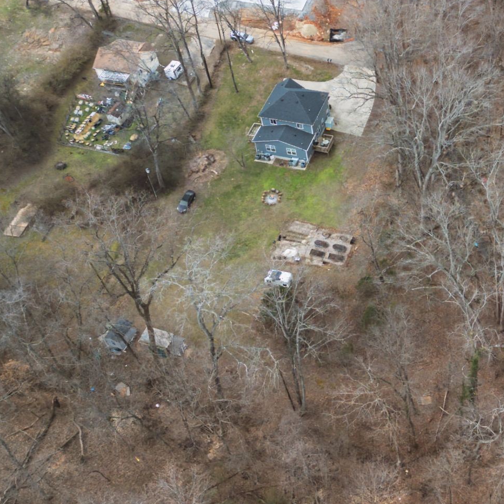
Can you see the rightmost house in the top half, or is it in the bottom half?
top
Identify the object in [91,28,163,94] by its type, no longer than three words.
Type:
house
